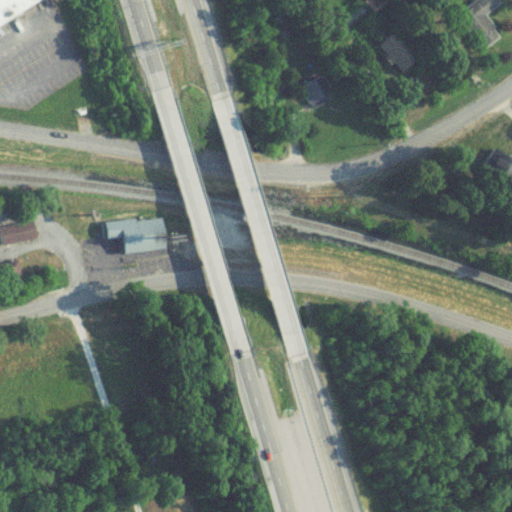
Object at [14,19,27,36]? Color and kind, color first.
white vehicle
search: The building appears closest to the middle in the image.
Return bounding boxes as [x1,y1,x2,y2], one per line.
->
[104,218,168,254]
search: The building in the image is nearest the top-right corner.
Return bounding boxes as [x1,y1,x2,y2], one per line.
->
[467,0,504,47]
